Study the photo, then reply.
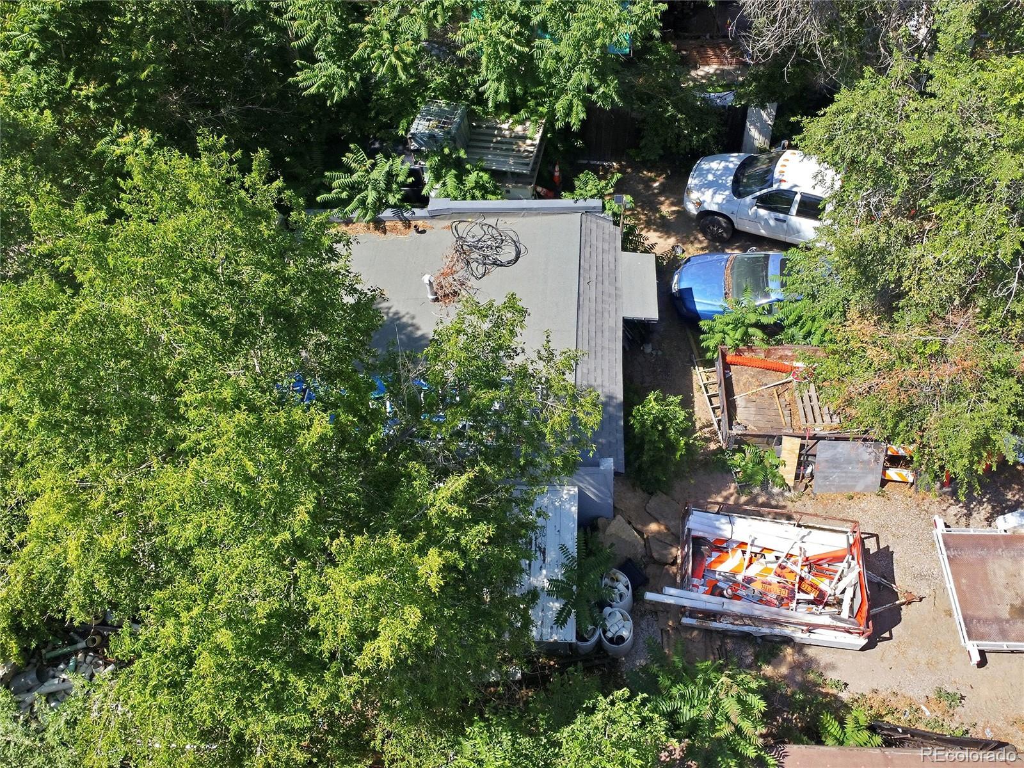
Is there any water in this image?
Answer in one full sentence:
No, no water is visible.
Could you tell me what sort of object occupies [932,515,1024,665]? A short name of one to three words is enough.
trailer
